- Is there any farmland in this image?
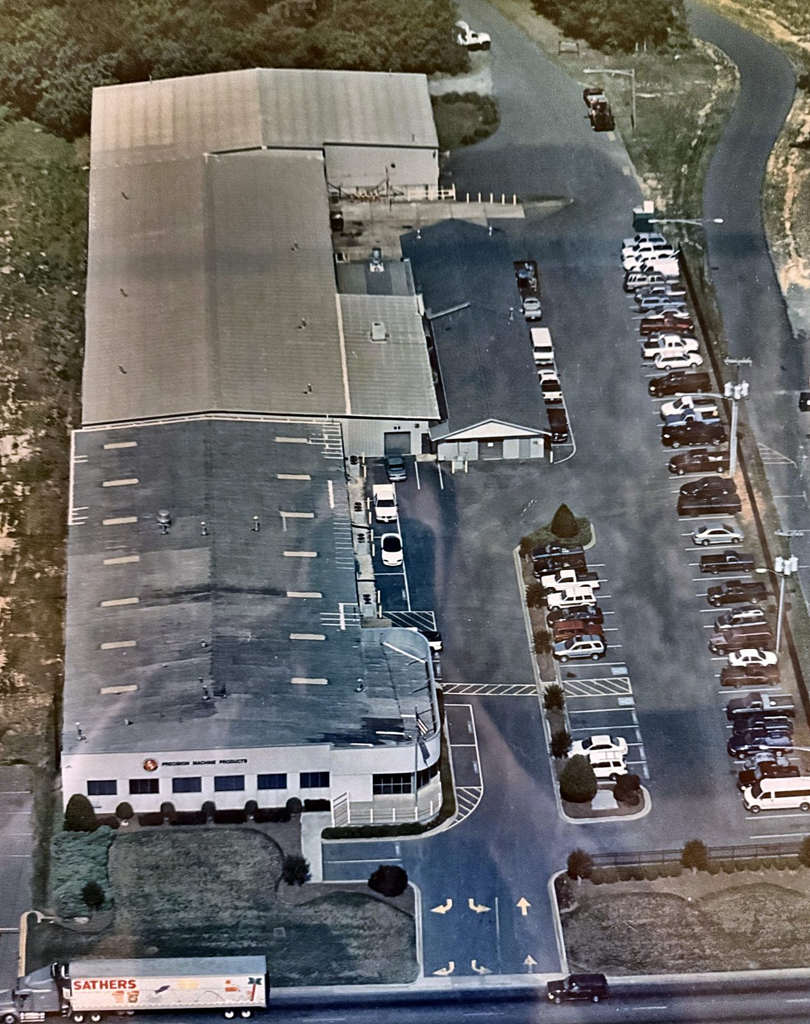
No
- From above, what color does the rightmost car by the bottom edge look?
black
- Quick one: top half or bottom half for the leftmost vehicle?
bottom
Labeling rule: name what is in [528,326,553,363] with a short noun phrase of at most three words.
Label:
vehicle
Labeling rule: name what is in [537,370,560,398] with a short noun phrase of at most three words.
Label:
truck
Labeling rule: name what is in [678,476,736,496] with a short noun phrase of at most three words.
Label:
car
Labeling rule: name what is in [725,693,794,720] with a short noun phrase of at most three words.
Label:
truck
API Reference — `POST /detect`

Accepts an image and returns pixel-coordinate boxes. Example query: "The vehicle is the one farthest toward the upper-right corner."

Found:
[581,93,612,130]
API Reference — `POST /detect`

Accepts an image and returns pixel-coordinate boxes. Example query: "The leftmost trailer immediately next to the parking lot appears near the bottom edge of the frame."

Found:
[61,954,266,1016]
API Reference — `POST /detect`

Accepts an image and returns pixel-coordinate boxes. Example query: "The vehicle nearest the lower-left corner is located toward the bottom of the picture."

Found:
[0,959,101,1018]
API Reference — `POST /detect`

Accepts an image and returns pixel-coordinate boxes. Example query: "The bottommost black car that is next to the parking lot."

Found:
[546,968,608,1003]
